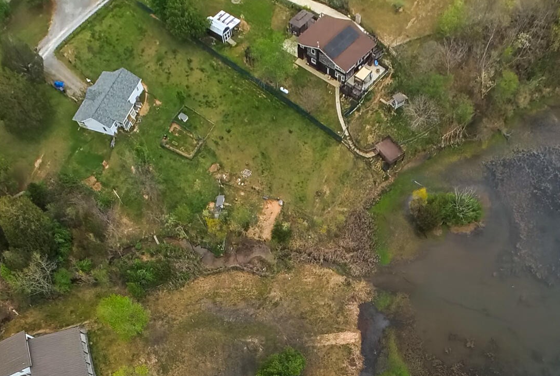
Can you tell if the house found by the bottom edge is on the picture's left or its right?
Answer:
left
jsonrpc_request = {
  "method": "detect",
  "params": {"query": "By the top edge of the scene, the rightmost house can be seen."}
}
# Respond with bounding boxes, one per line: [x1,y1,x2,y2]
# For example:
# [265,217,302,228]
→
[297,10,369,90]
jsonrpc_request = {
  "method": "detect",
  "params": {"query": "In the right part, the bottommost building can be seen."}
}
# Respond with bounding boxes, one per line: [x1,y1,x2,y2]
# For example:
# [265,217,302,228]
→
[376,138,403,169]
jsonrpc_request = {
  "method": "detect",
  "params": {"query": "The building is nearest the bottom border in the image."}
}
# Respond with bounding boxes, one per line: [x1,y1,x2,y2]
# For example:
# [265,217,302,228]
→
[0,326,95,376]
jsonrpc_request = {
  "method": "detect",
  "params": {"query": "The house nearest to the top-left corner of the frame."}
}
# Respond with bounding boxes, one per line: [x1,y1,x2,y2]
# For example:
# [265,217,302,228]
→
[72,69,139,143]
